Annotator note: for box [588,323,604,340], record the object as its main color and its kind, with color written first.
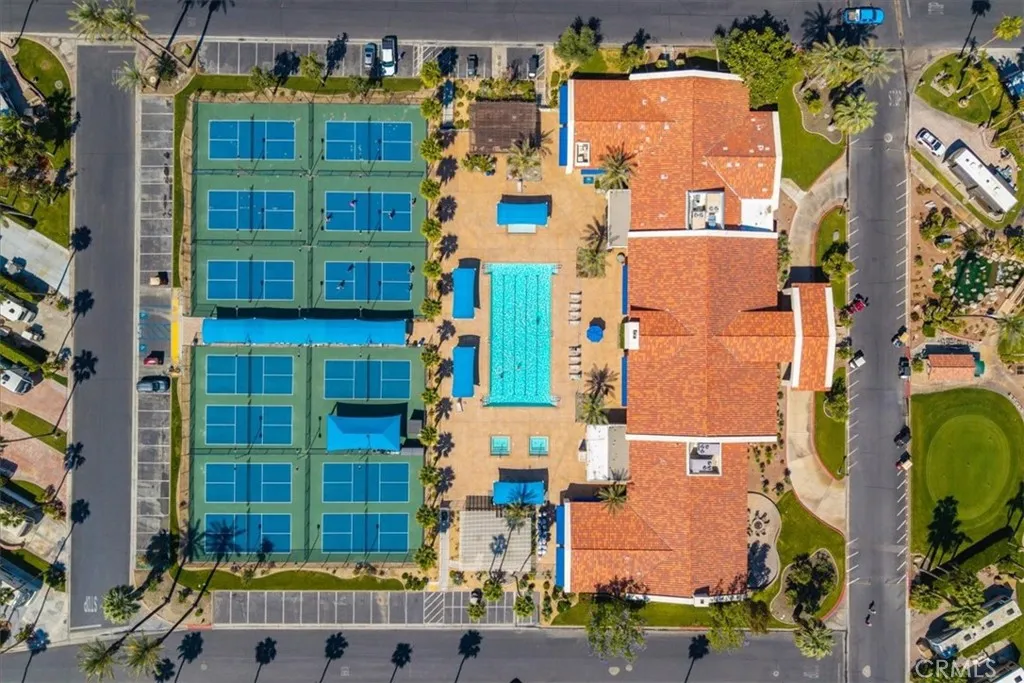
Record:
blue umbrella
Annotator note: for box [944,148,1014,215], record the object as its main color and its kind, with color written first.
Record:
white trailer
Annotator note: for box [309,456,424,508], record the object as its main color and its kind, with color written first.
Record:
blue sports court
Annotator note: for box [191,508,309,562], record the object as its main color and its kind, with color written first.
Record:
blue sports court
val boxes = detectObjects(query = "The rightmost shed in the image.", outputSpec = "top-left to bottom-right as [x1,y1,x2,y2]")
[919,346,985,384]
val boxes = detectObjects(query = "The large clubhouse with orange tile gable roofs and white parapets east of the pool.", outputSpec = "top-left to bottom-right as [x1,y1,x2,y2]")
[556,69,843,609]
